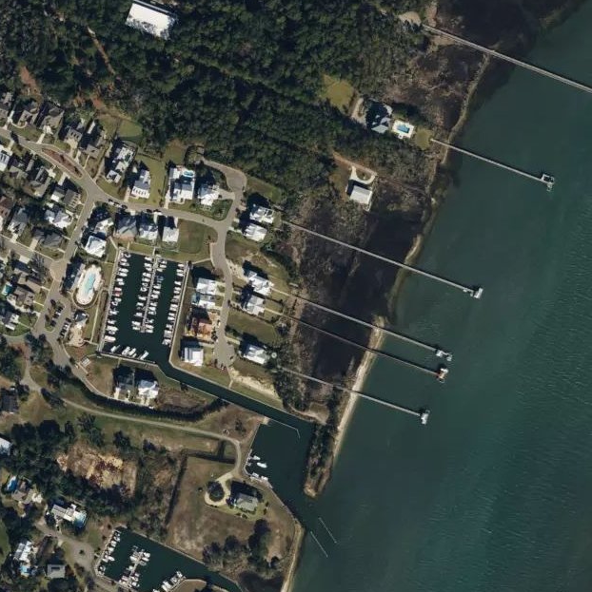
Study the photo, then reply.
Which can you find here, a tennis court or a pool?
pool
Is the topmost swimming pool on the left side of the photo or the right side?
right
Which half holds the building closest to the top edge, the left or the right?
left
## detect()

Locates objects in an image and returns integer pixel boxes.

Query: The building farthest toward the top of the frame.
[125,0,176,37]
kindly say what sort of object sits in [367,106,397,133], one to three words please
house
